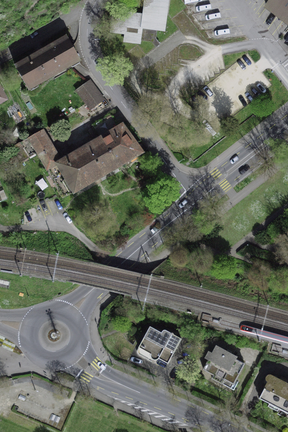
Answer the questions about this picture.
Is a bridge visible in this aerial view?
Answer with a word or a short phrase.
Yes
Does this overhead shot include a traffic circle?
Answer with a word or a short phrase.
Yes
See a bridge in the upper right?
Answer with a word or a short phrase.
No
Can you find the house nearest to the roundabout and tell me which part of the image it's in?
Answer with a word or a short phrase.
bottom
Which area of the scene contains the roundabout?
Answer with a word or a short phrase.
bottom left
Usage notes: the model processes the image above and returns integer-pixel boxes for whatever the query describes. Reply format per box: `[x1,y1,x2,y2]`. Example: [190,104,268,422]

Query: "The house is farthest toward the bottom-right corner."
[260,374,288,419]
